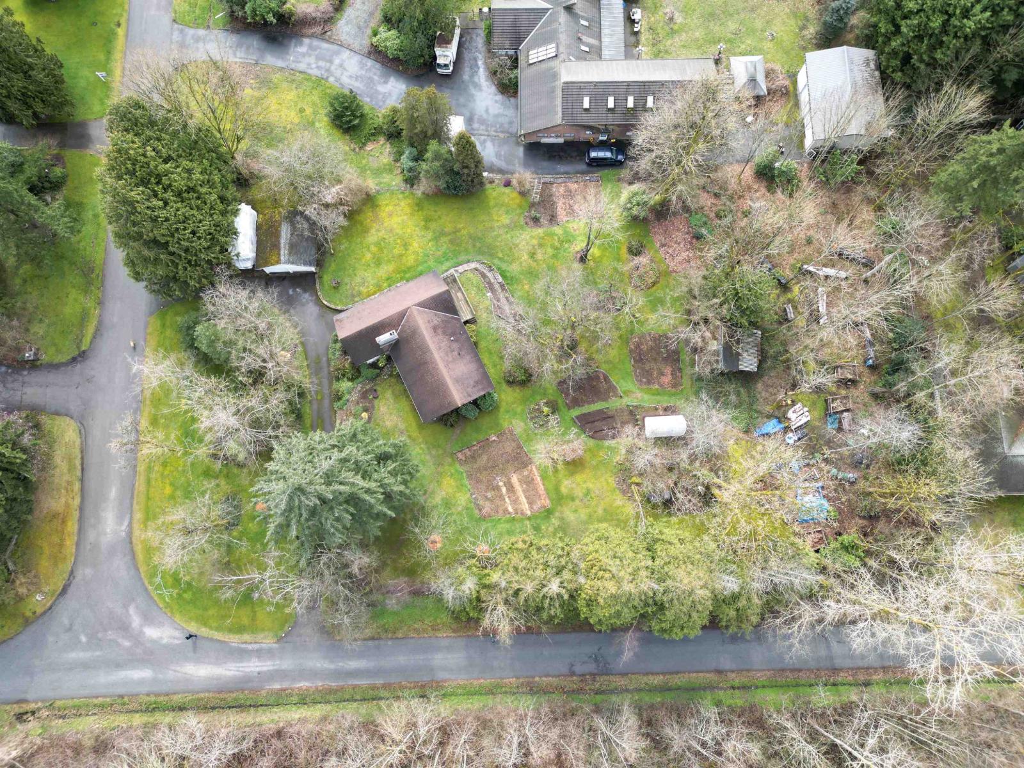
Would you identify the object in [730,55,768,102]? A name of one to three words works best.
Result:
building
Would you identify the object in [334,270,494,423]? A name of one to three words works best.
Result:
house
